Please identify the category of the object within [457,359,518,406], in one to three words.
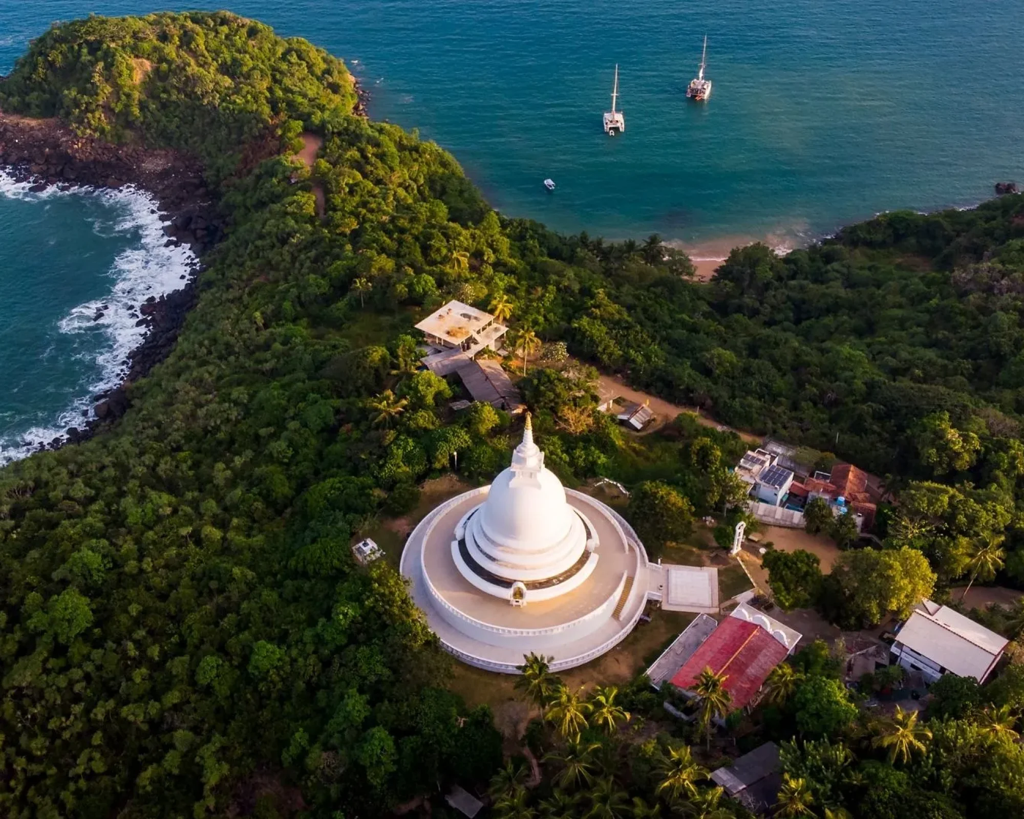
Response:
shed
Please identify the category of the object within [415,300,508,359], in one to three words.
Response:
house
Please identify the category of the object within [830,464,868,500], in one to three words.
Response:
house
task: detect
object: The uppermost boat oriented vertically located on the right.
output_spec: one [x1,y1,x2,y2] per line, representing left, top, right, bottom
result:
[690,33,709,96]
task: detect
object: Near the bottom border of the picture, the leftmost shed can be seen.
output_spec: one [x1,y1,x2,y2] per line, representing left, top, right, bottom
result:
[445,785,483,819]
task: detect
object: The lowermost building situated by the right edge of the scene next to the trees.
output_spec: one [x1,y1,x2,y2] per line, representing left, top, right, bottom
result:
[884,605,1010,699]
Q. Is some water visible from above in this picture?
Yes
